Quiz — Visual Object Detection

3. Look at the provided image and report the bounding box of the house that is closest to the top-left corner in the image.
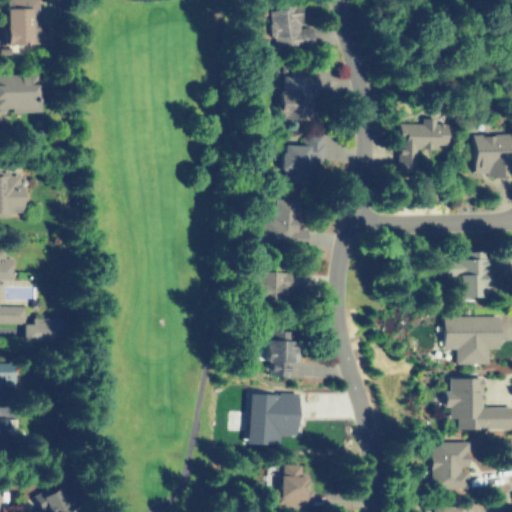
[10,0,42,45]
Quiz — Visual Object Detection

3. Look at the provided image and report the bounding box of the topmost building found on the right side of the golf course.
[271,10,316,45]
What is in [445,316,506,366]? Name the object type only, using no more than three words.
house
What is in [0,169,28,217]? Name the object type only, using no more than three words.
house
